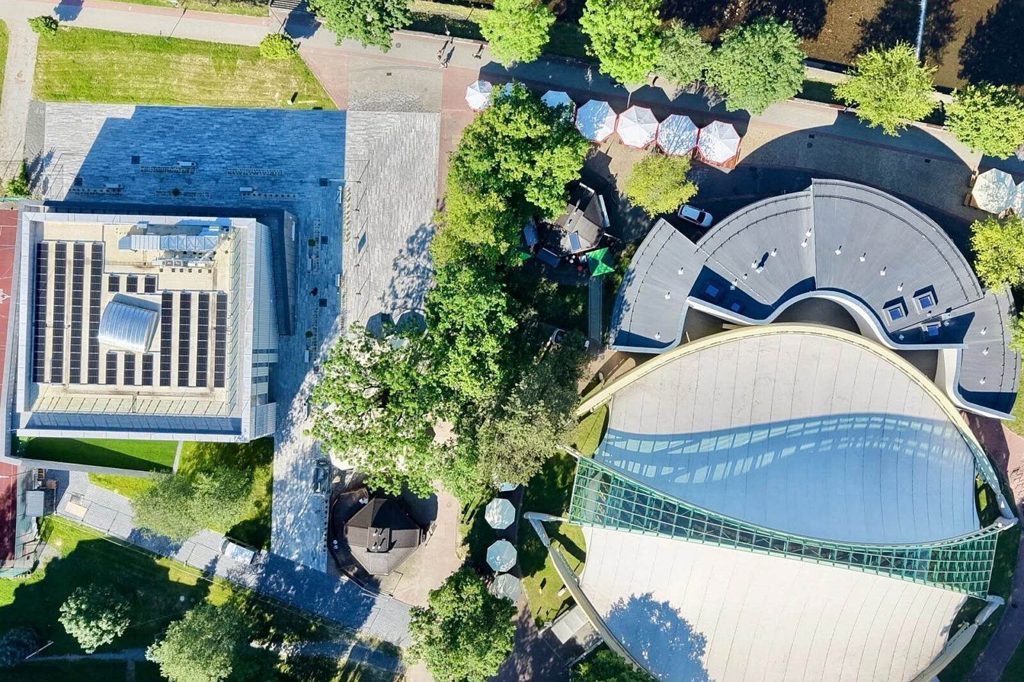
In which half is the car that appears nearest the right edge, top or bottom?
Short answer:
top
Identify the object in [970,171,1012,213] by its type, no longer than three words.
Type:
umbrella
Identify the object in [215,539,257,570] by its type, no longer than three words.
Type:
van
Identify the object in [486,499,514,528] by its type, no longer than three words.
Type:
umbrella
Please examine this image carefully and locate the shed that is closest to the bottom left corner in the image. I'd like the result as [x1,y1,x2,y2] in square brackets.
[26,486,58,517]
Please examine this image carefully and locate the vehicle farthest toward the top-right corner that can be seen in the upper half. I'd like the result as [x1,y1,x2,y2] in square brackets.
[680,203,716,226]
